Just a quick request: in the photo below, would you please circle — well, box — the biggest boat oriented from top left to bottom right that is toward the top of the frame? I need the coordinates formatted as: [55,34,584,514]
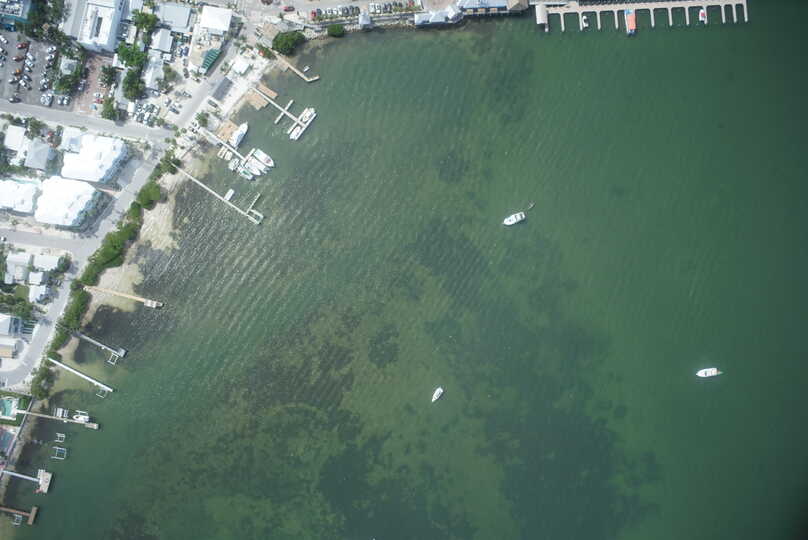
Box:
[254,148,274,165]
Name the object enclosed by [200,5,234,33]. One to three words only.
building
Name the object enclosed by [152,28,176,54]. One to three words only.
house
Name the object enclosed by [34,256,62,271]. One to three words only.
house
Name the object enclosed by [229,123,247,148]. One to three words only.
boat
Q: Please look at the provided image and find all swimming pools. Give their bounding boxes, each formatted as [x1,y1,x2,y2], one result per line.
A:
[0,395,15,419]
[0,428,16,464]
